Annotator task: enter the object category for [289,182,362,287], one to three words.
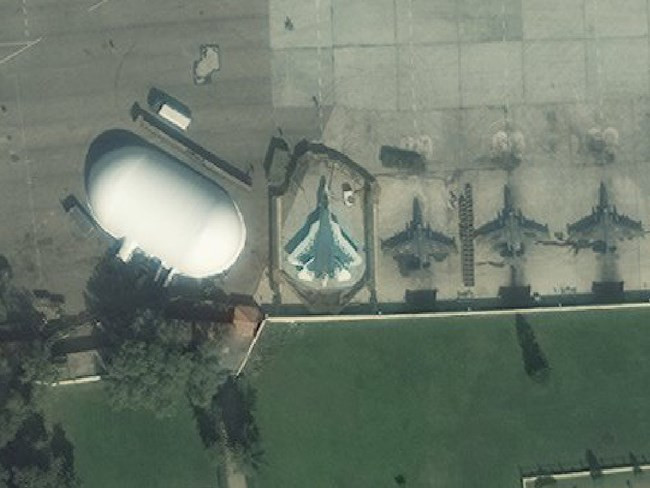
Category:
airplane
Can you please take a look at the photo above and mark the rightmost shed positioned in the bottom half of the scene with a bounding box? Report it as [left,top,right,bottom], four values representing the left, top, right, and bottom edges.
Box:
[234,305,262,339]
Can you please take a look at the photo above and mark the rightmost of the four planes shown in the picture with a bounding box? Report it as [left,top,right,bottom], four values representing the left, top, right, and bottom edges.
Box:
[569,185,646,268]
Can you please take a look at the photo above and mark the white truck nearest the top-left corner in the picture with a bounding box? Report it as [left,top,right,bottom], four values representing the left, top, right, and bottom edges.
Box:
[147,98,192,129]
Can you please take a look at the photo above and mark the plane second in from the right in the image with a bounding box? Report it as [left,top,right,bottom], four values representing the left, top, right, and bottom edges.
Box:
[477,188,553,270]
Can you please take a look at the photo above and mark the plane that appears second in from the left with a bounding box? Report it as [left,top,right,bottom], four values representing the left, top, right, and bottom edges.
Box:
[385,201,462,282]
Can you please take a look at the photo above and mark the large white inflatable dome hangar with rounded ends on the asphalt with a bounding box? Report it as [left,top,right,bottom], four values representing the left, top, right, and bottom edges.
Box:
[86,143,249,291]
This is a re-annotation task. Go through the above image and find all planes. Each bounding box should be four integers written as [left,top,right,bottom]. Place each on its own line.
[569,185,646,268]
[289,182,362,287]
[385,201,462,282]
[477,188,553,270]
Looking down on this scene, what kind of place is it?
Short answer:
airport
